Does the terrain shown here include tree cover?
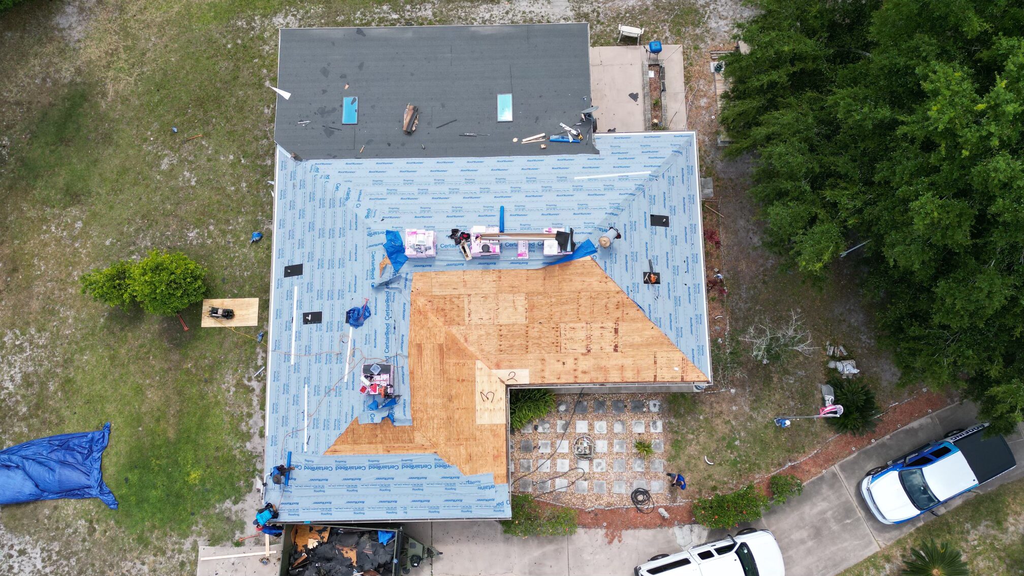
Yes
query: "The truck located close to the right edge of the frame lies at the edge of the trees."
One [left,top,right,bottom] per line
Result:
[863,418,1018,524]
